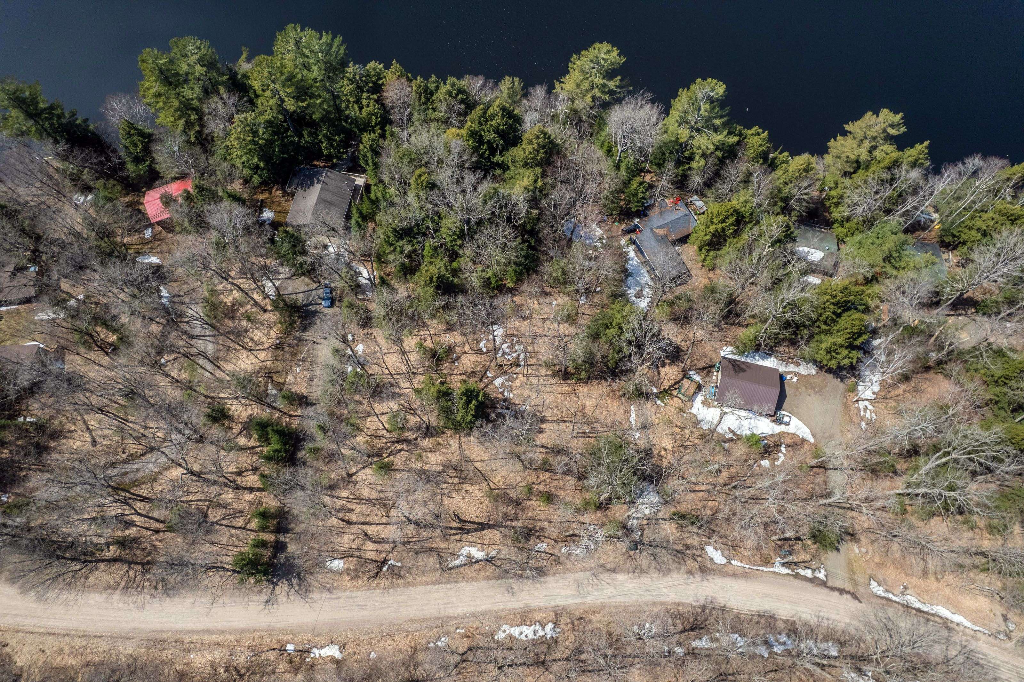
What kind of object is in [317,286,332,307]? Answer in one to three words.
car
